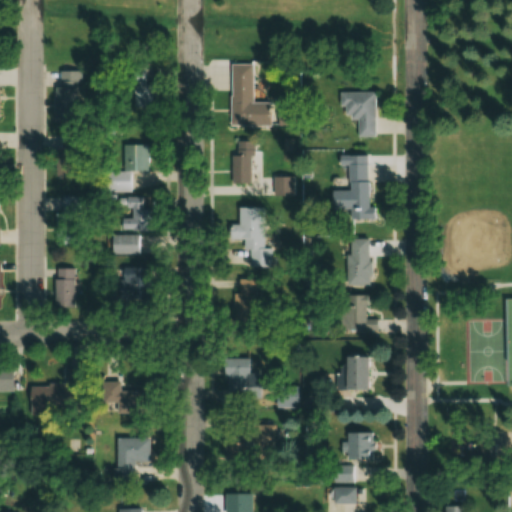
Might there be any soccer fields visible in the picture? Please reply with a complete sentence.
No, there isn't any soccer field down there.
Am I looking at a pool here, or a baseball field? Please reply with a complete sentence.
Of the two, only a baseball field appears.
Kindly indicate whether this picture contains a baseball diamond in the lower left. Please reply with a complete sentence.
No, looking in the lower left, there is no baseball diamond.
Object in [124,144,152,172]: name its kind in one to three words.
house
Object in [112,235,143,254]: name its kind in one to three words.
building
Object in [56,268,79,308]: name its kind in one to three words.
house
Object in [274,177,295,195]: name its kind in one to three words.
building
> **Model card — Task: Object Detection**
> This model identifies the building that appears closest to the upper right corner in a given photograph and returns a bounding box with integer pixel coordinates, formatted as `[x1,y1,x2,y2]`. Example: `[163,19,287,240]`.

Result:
[340,92,378,138]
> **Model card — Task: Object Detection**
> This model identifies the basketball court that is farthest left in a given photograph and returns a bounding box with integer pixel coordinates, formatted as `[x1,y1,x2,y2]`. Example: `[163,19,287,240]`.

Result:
[468,320,504,384]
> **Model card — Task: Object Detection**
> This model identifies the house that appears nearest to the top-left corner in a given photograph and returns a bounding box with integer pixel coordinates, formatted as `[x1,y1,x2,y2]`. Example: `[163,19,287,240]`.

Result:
[56,71,86,110]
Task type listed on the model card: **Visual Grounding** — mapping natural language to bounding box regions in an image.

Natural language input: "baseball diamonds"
[444,210,512,277]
